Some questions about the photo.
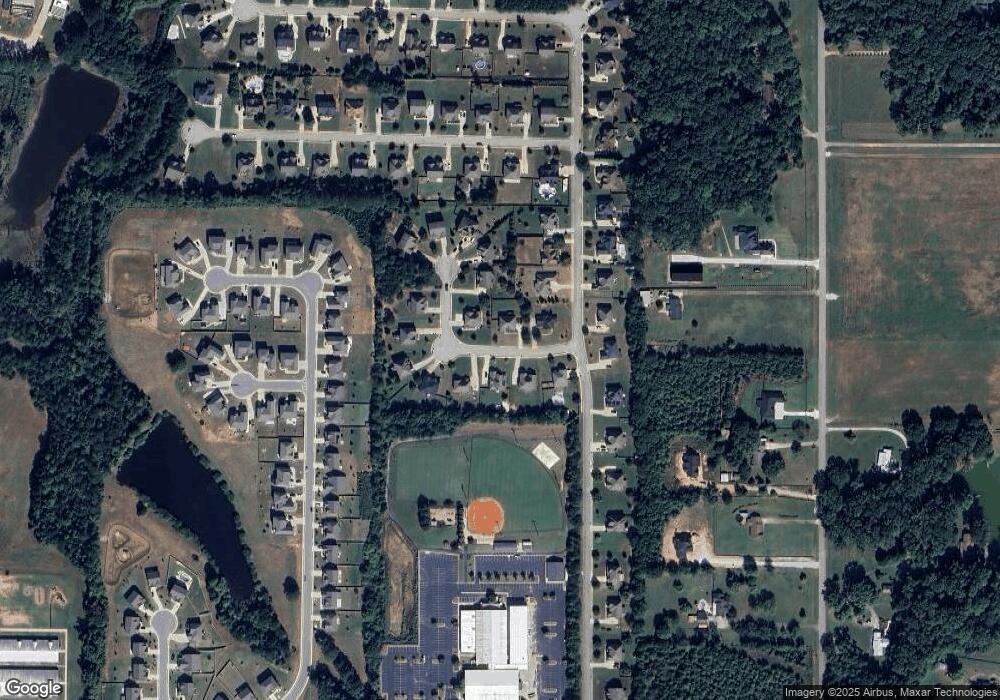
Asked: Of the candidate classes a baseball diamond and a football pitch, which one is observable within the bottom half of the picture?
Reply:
baseball diamond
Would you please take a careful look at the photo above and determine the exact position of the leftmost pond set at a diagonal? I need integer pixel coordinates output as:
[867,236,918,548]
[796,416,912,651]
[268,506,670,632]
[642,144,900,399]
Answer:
[8,65,119,228]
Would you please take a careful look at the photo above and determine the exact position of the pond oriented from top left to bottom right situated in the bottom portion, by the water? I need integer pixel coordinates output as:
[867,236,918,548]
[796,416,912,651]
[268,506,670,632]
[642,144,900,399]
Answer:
[117,416,254,597]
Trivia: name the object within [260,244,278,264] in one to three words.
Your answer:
house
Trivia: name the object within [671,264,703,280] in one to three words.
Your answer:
barn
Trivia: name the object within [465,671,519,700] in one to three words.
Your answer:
building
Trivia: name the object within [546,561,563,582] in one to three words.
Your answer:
building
